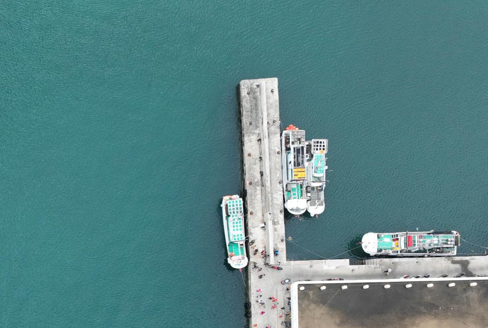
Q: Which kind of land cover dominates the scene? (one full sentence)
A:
The largest share of the image is taken up by water.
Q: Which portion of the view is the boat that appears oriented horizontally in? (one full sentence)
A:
The boat that appears oriented horizontally is in the bottom right part of the image.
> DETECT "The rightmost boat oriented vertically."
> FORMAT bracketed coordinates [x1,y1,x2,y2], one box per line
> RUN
[306,139,332,225]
